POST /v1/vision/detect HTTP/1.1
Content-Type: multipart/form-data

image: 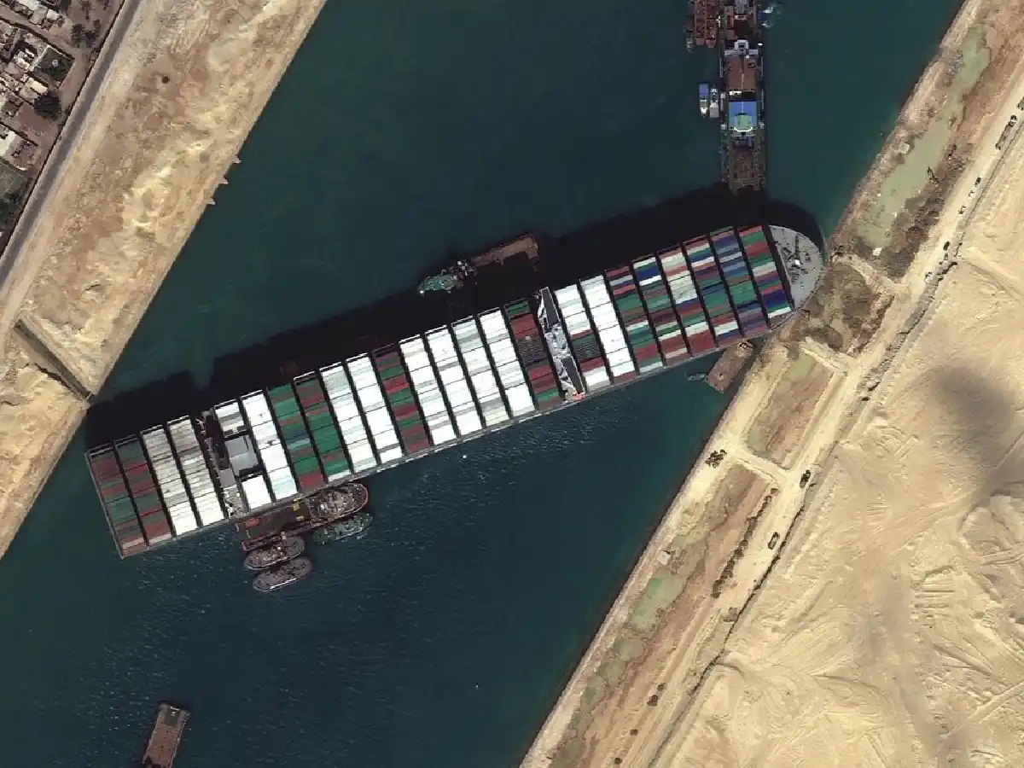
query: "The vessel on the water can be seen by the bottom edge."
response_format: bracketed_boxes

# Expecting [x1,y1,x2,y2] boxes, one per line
[141,704,190,768]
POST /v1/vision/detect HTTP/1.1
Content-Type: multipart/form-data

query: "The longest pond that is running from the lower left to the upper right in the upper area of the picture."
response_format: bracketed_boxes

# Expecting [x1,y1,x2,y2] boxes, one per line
[859,31,987,243]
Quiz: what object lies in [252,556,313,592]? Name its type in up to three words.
boat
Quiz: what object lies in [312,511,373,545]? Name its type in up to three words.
boat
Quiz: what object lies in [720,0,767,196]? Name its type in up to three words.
ship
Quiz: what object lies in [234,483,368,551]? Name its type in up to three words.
ship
